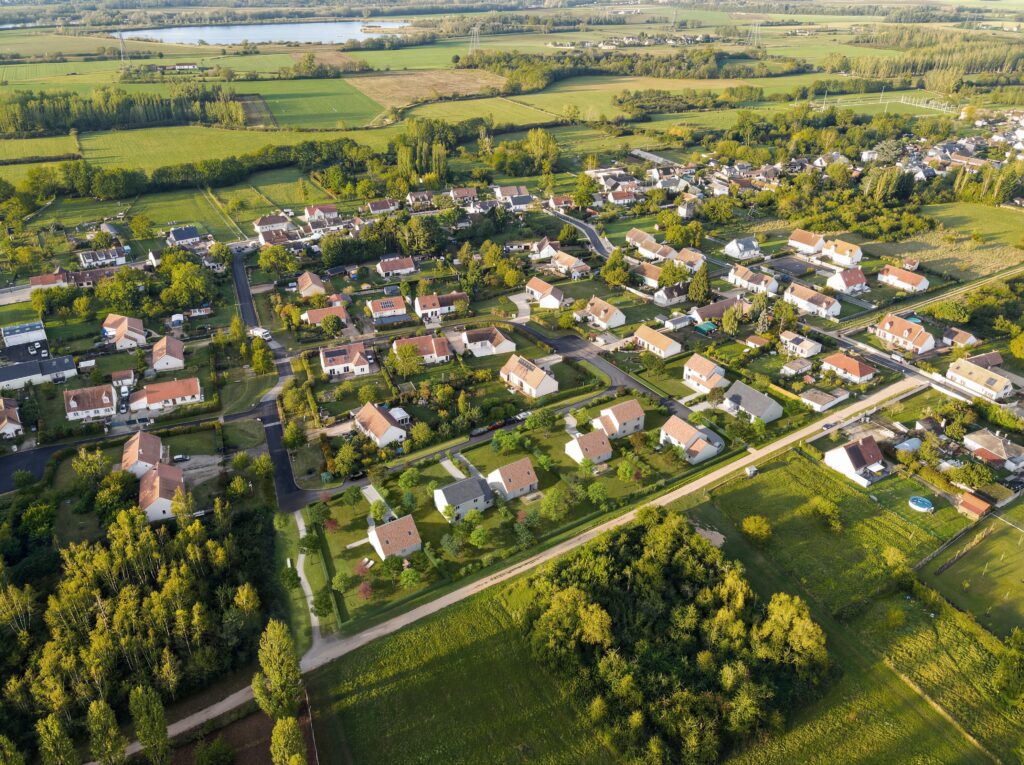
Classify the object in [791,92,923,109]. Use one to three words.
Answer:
sports field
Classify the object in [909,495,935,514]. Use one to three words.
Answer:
swimming pool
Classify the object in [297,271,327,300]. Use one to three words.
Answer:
house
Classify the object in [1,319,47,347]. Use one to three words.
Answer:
barn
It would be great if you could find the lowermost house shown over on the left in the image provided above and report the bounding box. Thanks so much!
[369,514,420,559]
